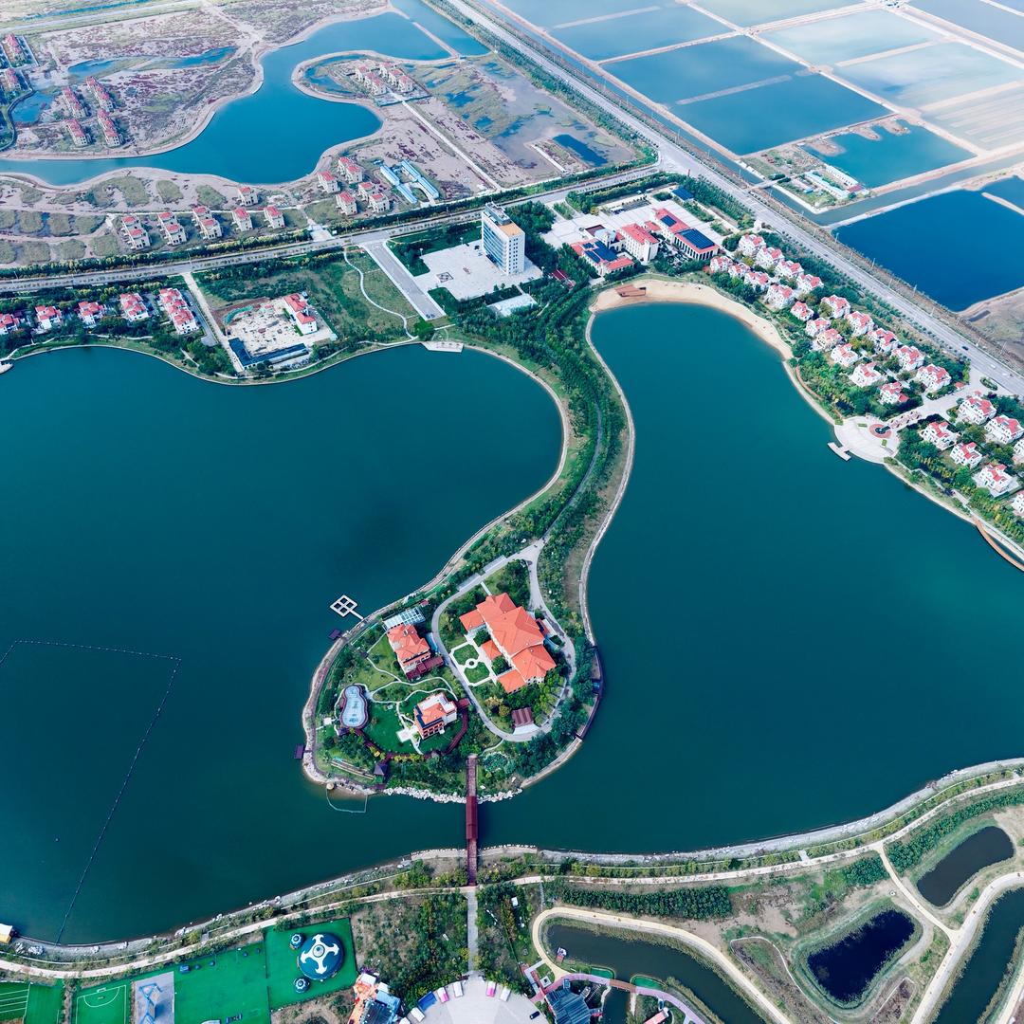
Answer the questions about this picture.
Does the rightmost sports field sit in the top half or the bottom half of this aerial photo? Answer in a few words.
bottom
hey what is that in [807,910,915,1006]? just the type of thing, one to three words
pond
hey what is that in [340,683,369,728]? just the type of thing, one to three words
swimming pool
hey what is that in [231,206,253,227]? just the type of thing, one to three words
house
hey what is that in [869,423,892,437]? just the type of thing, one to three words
fountain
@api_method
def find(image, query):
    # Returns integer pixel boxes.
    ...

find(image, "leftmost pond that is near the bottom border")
[549,925,767,1024]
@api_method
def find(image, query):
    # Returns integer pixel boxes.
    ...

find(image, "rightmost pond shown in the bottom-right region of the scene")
[918,826,1015,903]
